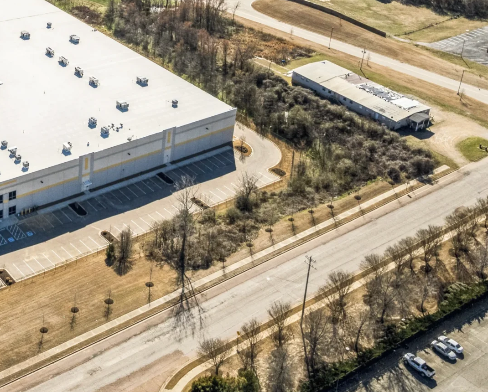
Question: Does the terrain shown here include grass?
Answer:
Yes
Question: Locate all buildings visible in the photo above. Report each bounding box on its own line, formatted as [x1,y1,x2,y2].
[292,64,434,132]
[0,0,237,220]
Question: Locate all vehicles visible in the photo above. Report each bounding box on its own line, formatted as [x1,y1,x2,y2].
[431,343,458,357]
[402,356,438,374]
[438,337,465,351]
